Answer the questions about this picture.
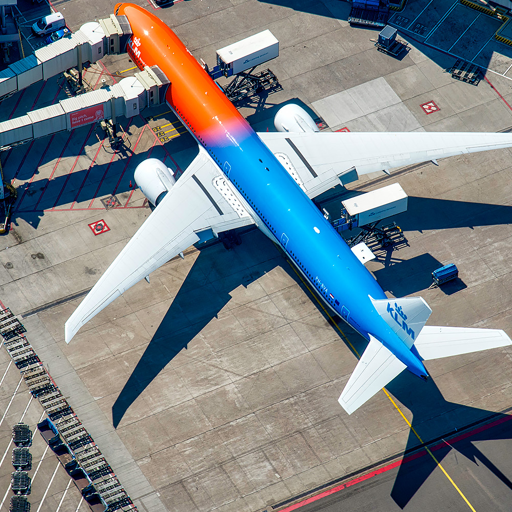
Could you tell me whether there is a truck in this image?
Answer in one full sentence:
Yes, I can see a truck in this picture.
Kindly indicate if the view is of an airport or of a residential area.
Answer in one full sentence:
The picture captures an airport.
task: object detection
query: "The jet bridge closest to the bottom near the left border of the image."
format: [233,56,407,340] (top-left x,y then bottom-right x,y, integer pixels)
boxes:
[0,64,172,156]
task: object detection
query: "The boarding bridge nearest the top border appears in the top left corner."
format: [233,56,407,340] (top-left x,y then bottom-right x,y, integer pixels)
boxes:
[0,11,138,105]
